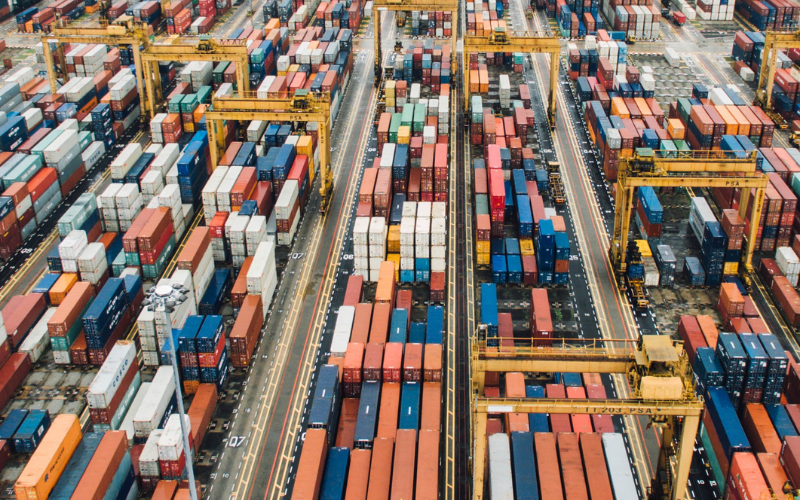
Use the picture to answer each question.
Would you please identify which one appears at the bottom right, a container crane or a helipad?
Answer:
container crane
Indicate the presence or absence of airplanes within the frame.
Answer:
No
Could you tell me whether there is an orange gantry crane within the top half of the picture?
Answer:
Yes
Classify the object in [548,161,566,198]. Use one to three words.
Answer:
vehicle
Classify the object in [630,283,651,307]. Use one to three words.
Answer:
vehicle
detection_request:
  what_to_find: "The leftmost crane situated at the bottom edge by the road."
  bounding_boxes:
[465,334,705,500]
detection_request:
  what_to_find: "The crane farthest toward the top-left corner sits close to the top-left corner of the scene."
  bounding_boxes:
[42,20,160,122]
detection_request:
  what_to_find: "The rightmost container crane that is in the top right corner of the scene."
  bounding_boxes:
[749,25,800,115]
